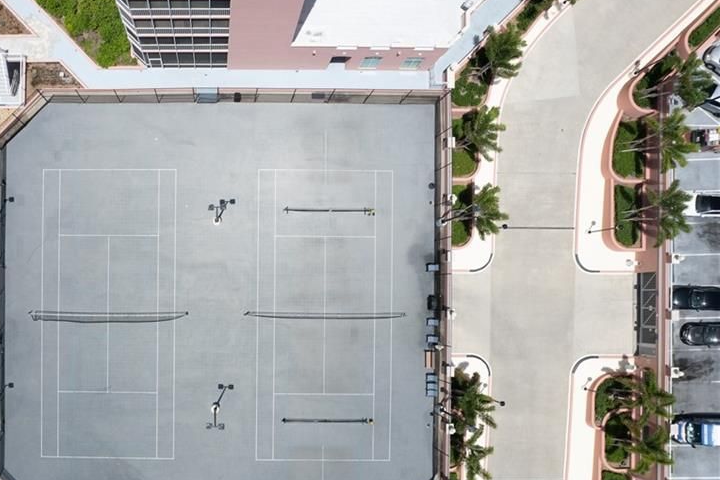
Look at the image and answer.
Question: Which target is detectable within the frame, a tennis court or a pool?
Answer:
tennis court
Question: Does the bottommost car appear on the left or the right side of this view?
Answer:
right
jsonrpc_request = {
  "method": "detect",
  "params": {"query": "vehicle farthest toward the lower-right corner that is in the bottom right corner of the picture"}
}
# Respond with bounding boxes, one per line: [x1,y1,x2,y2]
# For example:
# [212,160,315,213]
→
[674,419,720,446]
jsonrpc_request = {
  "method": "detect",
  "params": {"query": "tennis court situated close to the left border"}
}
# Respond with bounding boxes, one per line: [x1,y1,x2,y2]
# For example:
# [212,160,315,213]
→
[0,102,216,480]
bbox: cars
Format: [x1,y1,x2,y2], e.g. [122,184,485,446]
[674,285,720,311]
[674,419,720,446]
[698,43,720,78]
[678,320,720,346]
[682,190,720,217]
